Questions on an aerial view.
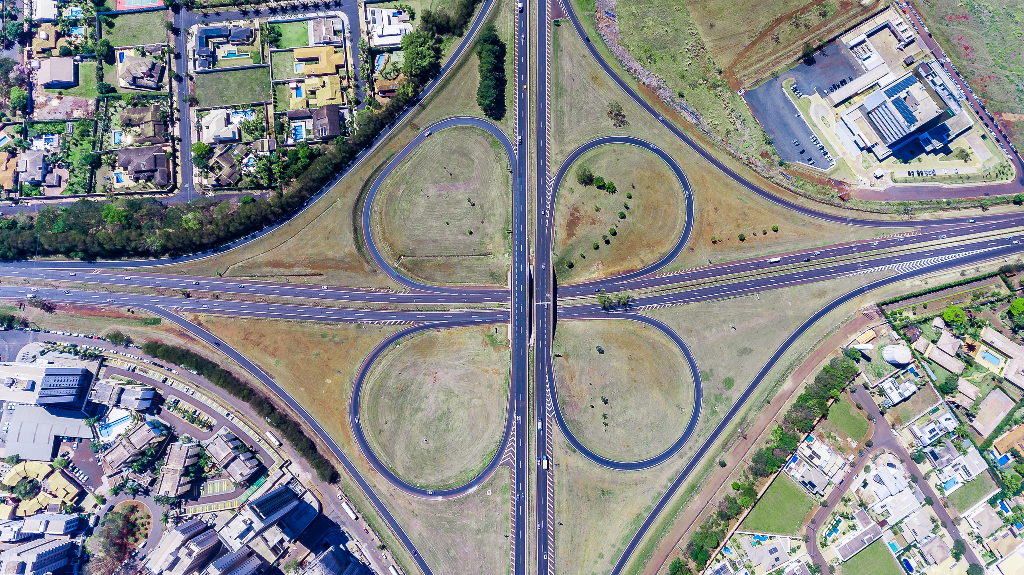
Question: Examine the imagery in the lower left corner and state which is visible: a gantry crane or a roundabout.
roundabout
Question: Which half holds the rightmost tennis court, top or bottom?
bottom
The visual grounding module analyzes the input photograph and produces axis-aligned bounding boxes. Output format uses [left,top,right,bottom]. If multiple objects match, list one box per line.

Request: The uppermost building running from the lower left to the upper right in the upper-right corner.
[836,6,897,48]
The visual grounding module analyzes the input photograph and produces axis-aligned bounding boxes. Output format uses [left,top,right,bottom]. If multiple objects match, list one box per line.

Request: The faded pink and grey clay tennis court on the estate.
[967,389,1015,439]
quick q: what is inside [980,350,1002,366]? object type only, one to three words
swimming pool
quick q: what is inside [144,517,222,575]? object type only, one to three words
building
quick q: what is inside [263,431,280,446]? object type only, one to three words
vehicle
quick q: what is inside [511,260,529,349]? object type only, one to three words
overpass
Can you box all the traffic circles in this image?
[90,487,164,574]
